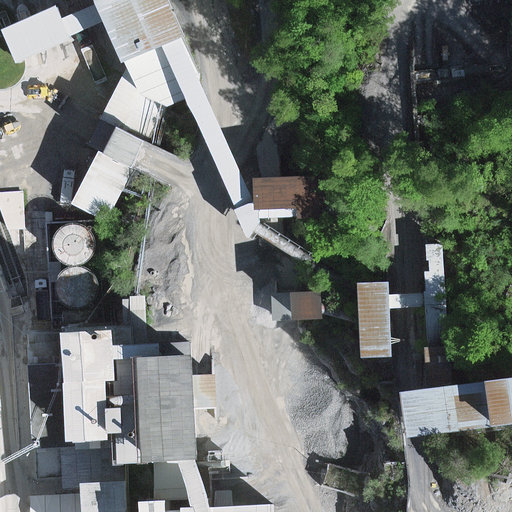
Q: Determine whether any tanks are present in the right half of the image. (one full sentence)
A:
No, there's no tank to be seen in the right half of the image.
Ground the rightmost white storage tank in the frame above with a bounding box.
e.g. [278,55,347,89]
[52,222,96,266]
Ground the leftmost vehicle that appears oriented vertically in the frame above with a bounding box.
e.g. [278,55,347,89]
[60,169,76,205]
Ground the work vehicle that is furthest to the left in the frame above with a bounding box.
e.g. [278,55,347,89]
[0,116,26,141]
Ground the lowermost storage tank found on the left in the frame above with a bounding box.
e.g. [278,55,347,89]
[54,266,100,310]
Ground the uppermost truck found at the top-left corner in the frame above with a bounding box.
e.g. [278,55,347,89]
[76,32,106,84]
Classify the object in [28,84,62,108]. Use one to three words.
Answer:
work vehicle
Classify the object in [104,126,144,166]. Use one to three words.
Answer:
shed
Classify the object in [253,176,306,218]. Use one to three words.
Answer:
house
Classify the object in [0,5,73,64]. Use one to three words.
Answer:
building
